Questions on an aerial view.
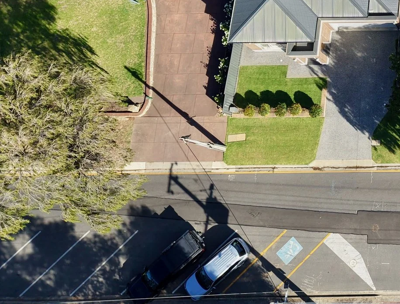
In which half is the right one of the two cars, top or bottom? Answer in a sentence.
You can find the right one of the two cars in the bottom half.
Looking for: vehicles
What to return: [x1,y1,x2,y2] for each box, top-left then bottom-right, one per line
[129,233,208,304]
[179,231,246,301]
